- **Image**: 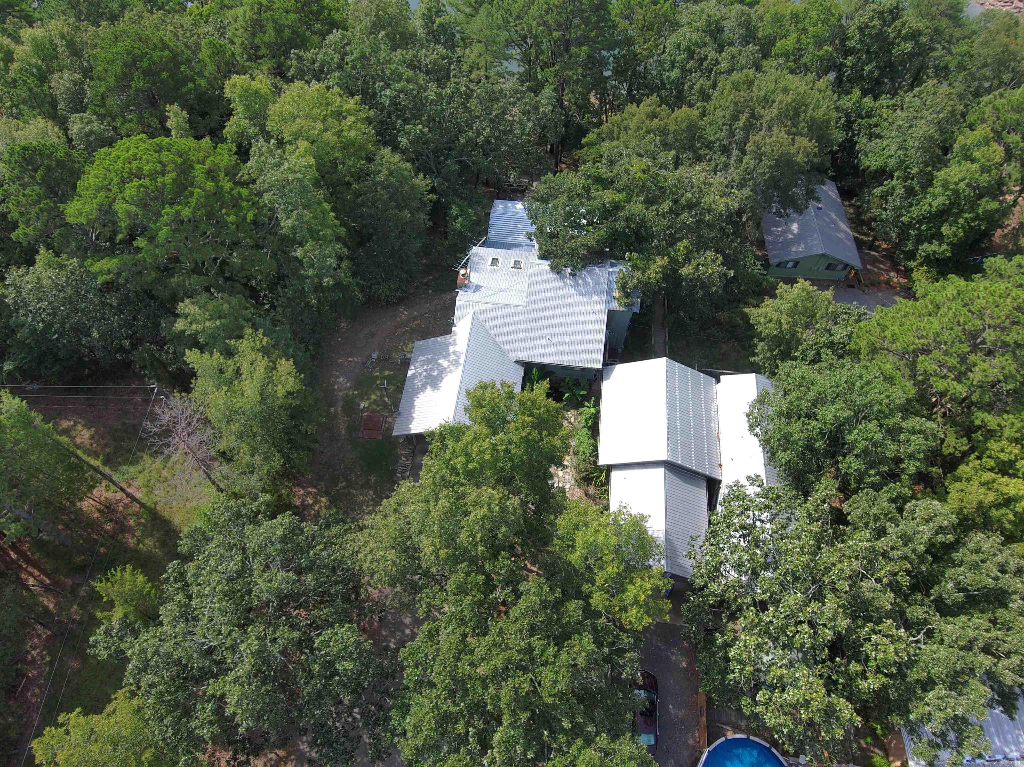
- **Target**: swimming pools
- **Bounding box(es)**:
[692,734,785,767]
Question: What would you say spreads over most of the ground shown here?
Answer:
trees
